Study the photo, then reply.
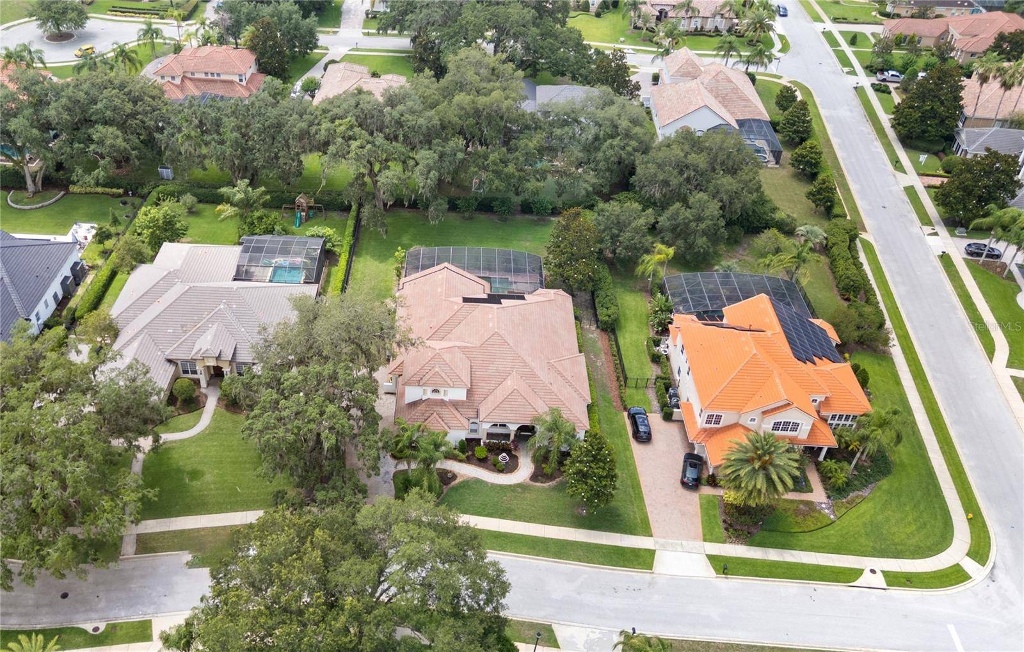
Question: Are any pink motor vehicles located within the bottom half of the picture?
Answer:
No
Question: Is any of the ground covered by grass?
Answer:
Yes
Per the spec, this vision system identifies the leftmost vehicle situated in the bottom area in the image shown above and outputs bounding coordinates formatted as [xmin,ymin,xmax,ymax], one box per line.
[625,405,658,442]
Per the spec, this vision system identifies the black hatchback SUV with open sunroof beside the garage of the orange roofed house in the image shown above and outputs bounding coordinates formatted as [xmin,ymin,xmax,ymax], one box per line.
[681,452,706,491]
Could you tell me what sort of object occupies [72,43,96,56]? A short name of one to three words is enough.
vehicle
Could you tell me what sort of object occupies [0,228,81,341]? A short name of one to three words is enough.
house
